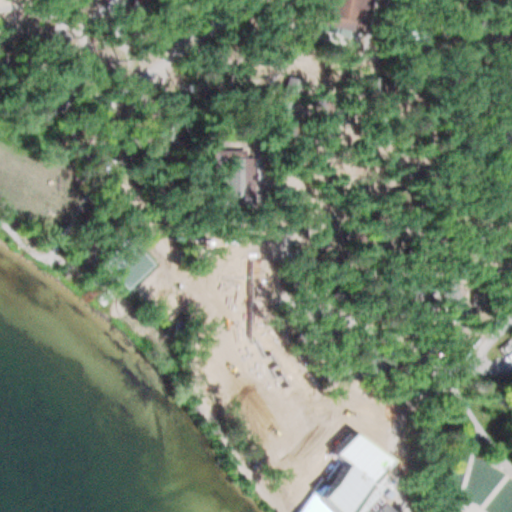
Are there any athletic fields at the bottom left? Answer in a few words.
No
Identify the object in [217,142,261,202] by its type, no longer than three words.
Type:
house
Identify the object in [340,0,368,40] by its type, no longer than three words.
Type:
house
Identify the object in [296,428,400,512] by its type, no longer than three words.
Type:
building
